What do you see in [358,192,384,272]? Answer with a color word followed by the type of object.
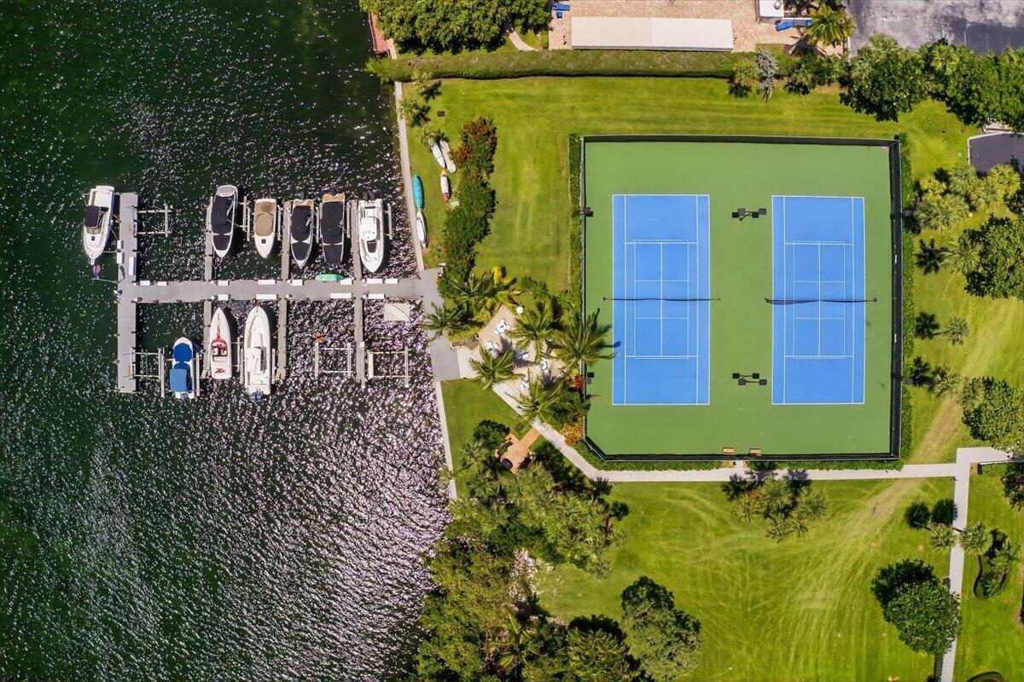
white boat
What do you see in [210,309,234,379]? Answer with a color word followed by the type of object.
white boat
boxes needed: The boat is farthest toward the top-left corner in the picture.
[83,184,119,265]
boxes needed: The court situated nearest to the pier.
[584,142,741,457]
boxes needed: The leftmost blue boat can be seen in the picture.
[168,338,196,402]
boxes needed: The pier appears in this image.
[115,193,460,393]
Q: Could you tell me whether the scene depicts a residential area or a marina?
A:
marina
